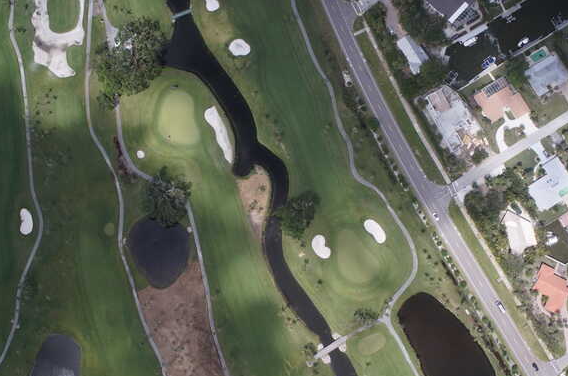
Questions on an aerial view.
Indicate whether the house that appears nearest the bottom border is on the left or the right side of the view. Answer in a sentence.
You can find the house that appears nearest the bottom border on the right side of the picture.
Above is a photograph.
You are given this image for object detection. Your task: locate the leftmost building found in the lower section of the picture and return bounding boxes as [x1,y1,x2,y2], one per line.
[501,210,536,255]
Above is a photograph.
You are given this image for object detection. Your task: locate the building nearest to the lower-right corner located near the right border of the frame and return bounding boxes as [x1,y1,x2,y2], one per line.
[532,264,568,312]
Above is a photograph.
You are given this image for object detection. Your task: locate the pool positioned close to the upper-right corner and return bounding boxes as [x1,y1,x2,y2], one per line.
[527,47,550,63]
